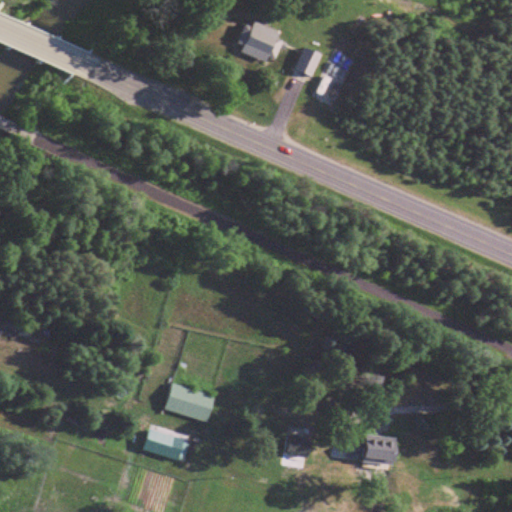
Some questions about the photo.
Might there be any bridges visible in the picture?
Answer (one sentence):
Yes, the picture does show a bridge.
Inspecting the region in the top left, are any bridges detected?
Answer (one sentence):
Yes, looking in the top left, one can make out a bridge.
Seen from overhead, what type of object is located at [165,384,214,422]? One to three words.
barn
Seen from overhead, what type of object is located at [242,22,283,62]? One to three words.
house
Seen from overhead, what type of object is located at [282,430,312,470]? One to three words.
house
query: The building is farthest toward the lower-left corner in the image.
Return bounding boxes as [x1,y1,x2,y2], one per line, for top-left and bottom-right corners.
[143,424,189,460]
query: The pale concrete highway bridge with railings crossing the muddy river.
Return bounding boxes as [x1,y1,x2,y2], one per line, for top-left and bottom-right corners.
[0,14,92,84]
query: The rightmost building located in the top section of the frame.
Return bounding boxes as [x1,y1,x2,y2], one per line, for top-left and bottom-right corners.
[294,48,320,78]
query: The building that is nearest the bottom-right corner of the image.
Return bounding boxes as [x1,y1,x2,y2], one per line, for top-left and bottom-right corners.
[362,434,398,470]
